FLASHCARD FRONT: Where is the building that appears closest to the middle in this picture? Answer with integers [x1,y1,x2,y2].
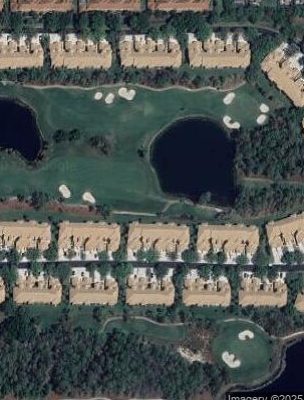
[127,221,189,250]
